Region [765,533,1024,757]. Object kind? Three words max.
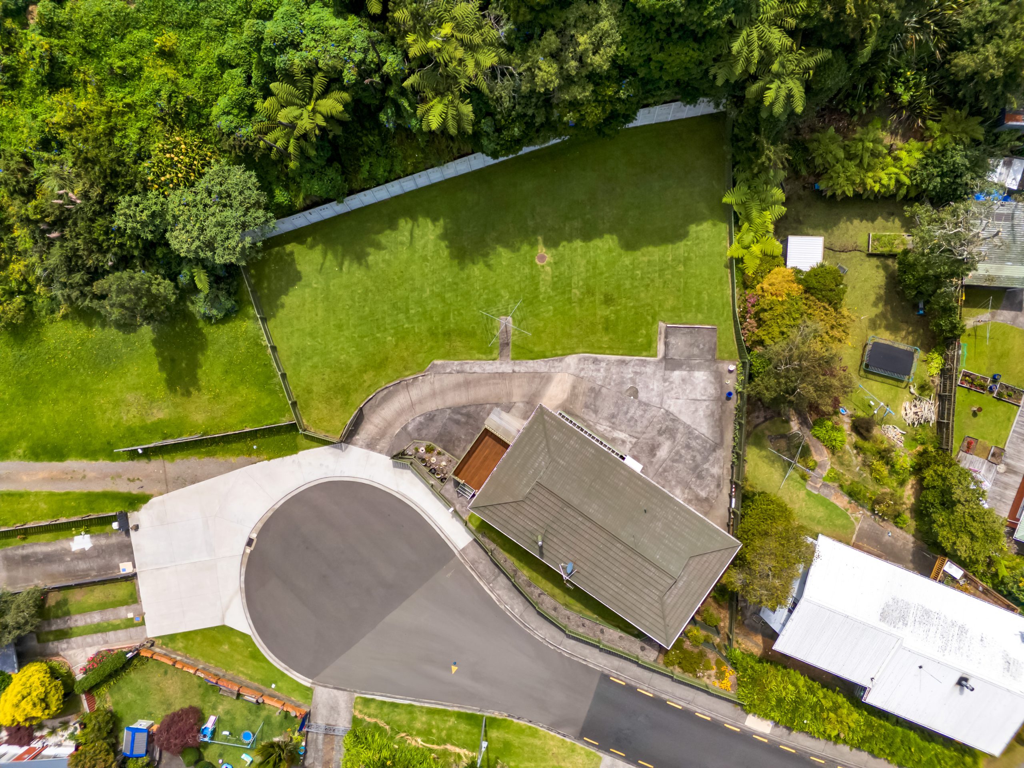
house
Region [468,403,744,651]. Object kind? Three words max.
house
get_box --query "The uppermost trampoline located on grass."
[858,336,919,381]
